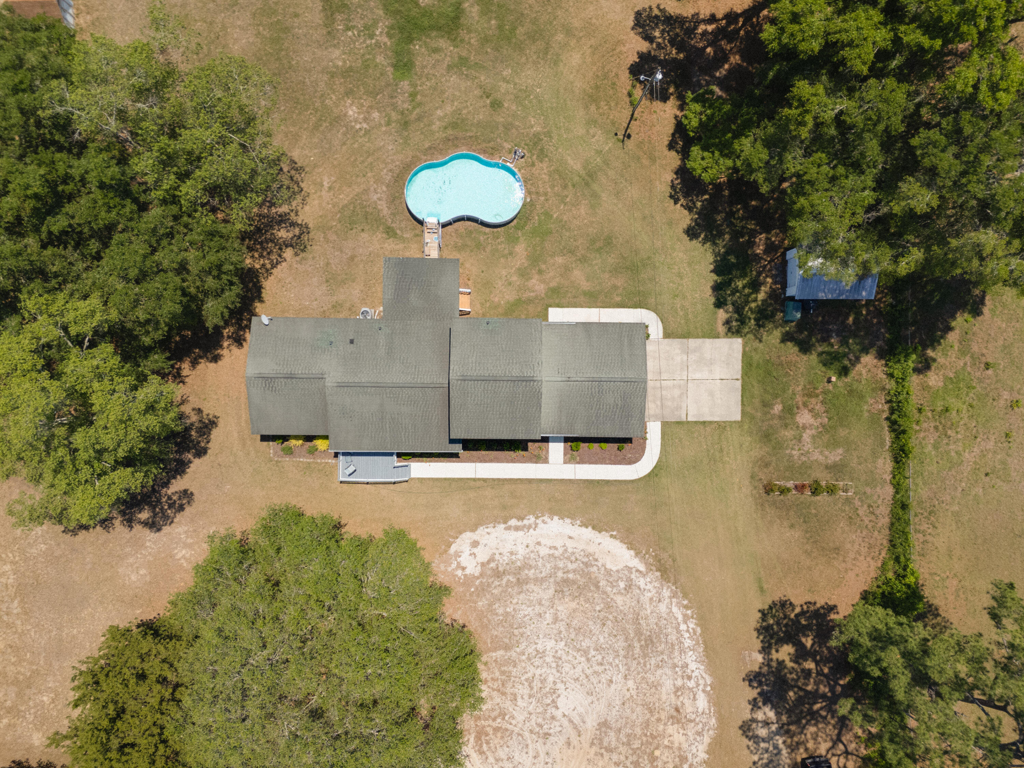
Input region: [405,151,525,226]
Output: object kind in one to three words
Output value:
swimming pool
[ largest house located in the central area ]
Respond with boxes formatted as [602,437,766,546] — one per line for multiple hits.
[246,257,647,453]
